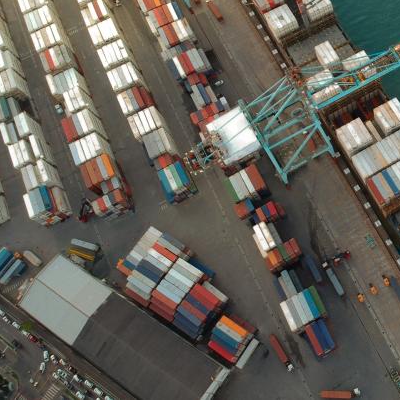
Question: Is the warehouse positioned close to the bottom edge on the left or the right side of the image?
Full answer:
You can find the warehouse positioned close to the bottom edge on the left side of the picture.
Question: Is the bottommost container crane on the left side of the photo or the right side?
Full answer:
The bottommost container crane sits on the right side.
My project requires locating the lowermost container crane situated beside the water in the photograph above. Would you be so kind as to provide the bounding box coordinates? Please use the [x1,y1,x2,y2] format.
[177,44,400,188]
